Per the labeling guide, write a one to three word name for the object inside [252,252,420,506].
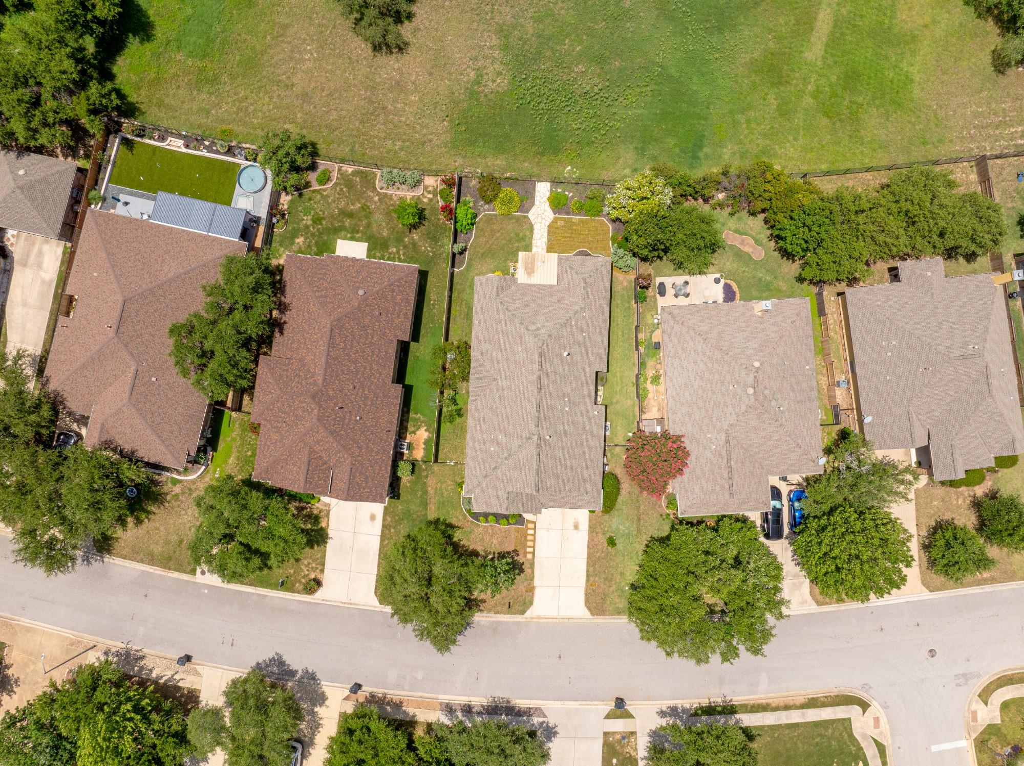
house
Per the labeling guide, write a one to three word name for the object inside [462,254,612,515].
house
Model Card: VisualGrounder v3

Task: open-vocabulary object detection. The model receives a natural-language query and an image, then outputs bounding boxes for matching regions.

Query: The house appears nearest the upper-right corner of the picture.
[836,256,1024,481]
